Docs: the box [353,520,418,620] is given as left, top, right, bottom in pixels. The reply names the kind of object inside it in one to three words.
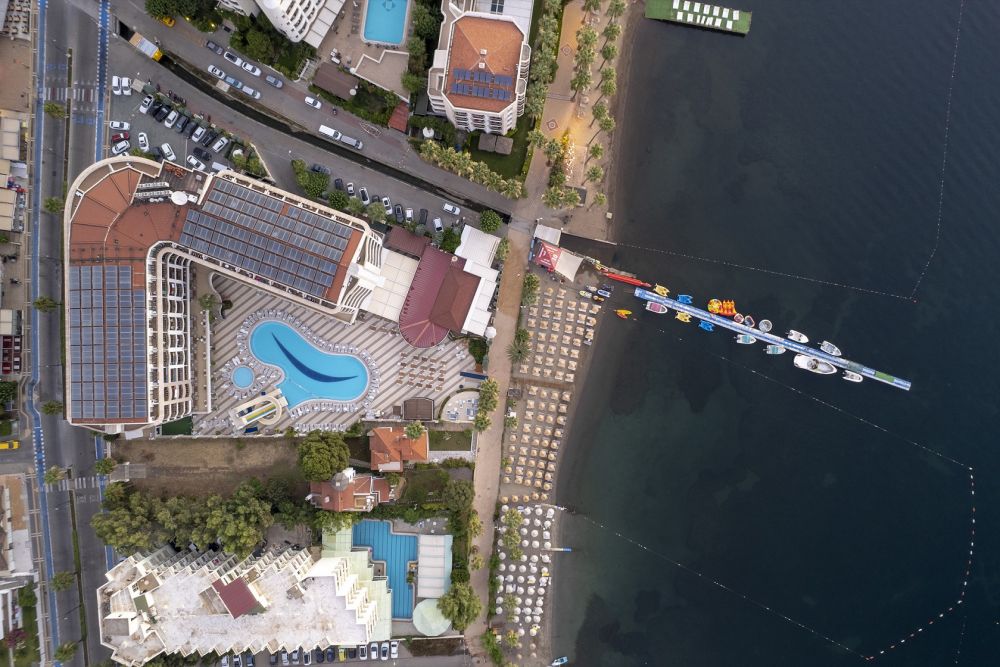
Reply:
swimming pool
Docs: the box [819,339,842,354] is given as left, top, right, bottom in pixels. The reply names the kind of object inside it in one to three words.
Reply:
boat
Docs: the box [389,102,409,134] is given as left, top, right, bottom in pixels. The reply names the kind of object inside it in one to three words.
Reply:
shed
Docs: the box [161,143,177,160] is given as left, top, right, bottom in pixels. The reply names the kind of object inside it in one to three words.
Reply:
car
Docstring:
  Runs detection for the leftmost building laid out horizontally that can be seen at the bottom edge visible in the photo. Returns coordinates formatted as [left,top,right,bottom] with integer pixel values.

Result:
[98,529,387,667]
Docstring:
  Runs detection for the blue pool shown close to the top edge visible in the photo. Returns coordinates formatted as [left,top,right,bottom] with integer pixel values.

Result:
[361,0,410,45]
